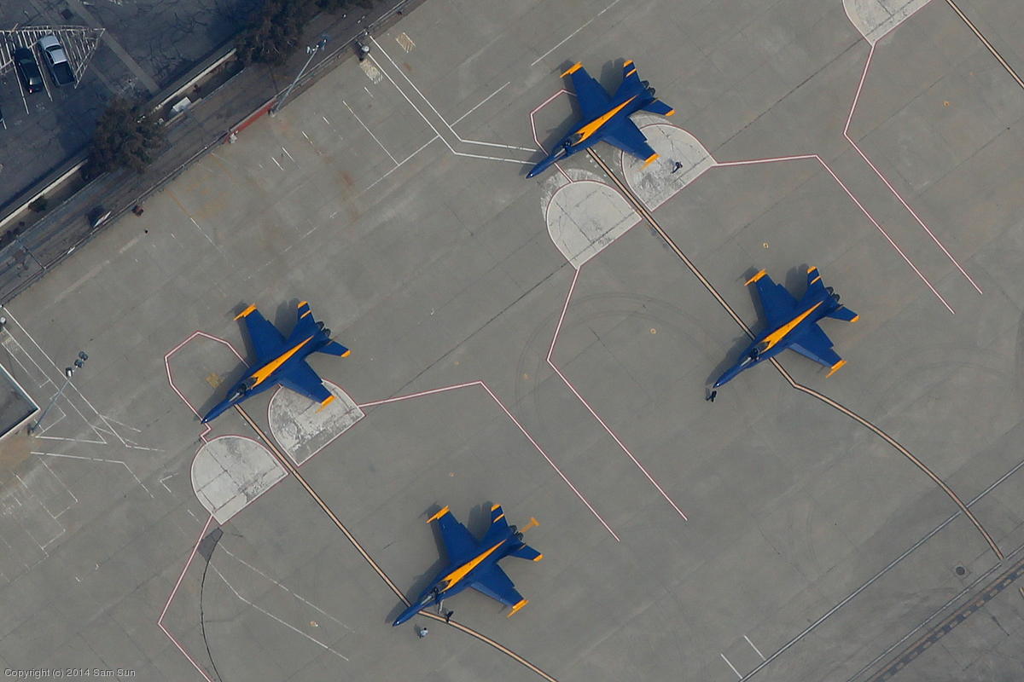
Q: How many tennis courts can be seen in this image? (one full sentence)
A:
Not a single tennis court can be seen.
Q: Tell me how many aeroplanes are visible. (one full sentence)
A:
The count of aeroplanes comes to 4.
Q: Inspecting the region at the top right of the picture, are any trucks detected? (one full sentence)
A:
No, no truck can be made out at the top right of the picture.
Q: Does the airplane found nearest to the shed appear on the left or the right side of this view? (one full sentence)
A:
The airplane found nearest to the shed sits on the left side.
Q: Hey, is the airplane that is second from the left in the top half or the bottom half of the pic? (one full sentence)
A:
You can find the airplane that is second from the left in the bottom half.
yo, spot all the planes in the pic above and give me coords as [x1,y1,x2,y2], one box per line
[202,301,351,423]
[527,59,675,177]
[714,266,860,387]
[393,504,543,626]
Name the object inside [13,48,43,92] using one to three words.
car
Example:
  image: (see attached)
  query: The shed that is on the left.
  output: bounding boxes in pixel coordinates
[0,364,38,441]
